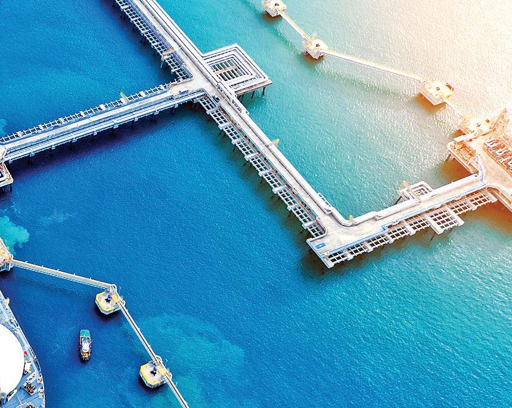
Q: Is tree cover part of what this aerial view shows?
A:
No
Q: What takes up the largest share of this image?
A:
water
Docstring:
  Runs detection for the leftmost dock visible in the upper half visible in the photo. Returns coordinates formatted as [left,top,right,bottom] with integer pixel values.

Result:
[1,81,210,167]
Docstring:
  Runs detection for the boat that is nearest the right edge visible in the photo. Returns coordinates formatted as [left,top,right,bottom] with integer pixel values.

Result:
[78,329,90,362]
